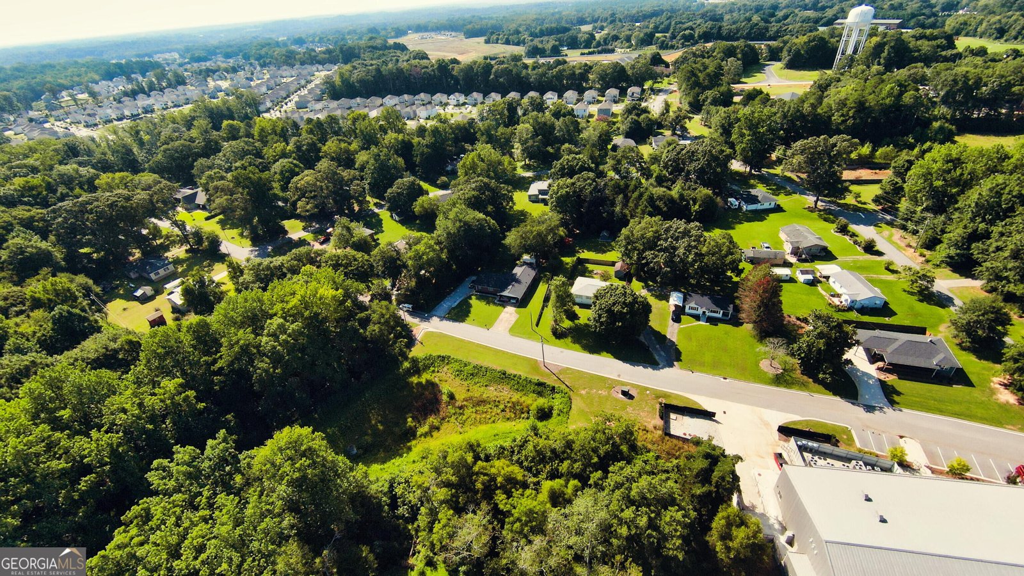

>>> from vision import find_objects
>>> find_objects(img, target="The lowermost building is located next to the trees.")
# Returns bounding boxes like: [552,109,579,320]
[776,462,1024,576]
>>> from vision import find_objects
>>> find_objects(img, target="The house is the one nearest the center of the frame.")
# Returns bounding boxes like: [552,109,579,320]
[474,263,544,306]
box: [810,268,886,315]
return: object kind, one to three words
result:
house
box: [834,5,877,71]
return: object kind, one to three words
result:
water tower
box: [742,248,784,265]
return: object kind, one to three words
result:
shed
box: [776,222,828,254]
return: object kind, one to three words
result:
house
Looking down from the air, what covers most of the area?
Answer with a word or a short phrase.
trees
